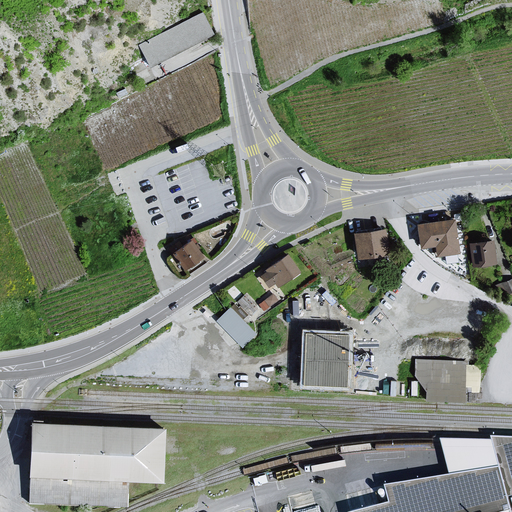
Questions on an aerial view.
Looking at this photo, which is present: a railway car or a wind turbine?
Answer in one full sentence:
This aerial view contains a railway car.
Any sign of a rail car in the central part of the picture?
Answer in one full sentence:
No, there is no rail car in the central part of the picture.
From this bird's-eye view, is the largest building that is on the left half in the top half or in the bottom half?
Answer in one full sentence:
You can find the largest building that is on the left half in the bottom half.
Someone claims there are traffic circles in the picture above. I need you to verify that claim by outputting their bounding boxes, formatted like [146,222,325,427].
[250,126,340,250]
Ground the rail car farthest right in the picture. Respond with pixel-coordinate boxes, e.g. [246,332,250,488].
[374,437,436,450]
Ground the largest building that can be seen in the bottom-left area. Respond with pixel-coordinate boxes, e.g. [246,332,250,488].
[30,424,166,508]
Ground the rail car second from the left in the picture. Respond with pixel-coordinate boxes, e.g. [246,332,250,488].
[289,449,338,466]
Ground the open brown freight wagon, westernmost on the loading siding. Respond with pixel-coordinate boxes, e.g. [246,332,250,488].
[242,459,290,477]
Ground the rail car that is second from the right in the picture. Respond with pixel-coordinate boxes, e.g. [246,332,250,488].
[339,443,374,456]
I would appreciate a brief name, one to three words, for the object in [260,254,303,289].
house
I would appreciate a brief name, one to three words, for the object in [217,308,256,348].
building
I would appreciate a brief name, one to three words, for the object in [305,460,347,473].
vehicle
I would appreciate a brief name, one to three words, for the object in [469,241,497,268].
house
